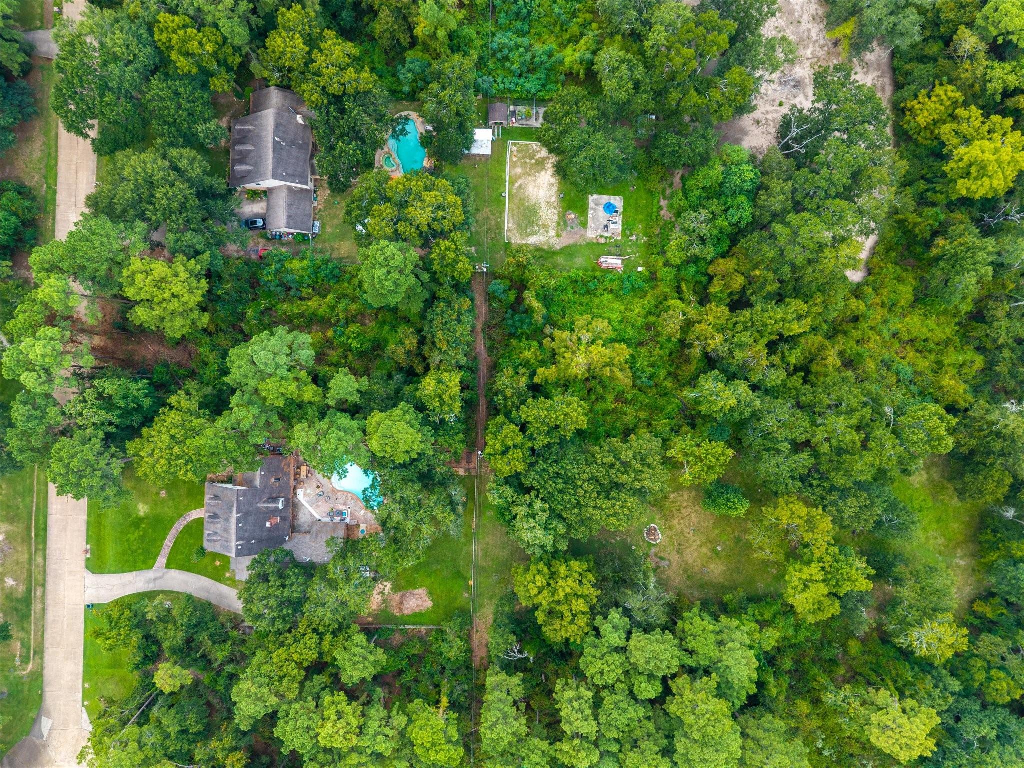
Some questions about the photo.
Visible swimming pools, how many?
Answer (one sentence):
The photo contains 2 swimming pools.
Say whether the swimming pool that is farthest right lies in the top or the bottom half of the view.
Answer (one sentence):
Seen from above, the swimming pool that is farthest right lies in the top half of the view.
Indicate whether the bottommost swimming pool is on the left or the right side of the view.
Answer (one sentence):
The bottommost swimming pool appears in the left half of the scene.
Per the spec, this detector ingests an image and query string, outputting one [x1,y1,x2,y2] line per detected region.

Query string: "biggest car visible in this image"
[241,217,267,230]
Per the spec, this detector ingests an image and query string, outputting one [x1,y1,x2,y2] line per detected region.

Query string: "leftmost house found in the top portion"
[230,87,323,234]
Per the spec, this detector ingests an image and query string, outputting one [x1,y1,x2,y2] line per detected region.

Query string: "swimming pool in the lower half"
[329,462,386,513]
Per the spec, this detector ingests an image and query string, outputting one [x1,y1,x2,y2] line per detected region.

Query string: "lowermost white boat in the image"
[593,256,622,269]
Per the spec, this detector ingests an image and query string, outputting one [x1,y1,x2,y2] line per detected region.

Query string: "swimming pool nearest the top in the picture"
[380,115,428,177]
